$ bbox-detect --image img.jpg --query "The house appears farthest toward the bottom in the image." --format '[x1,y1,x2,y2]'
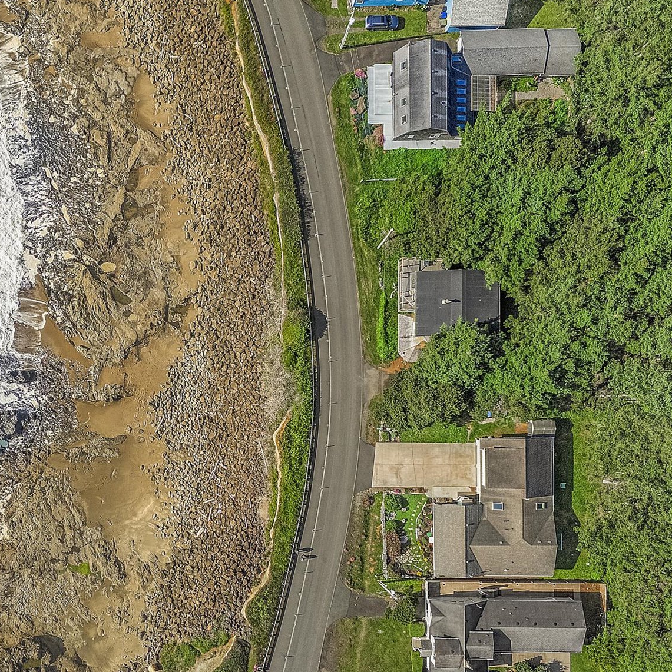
[410,580,590,672]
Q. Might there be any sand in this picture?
Yes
